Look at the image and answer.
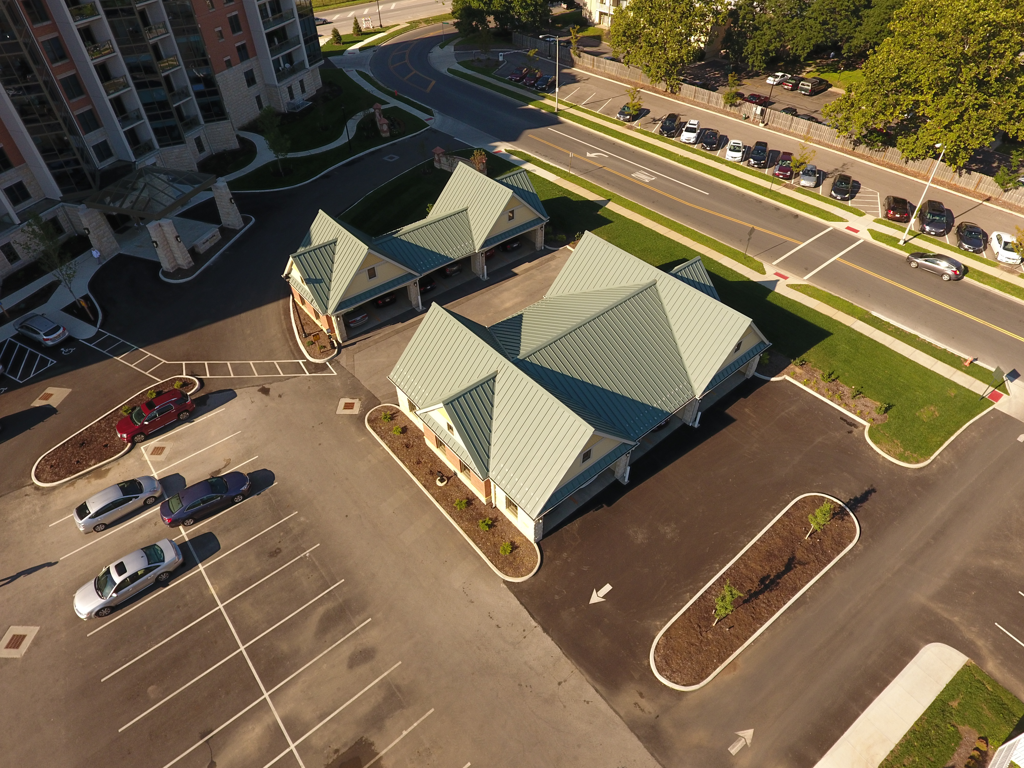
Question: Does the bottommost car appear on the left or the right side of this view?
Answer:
left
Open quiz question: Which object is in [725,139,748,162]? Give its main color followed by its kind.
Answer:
white car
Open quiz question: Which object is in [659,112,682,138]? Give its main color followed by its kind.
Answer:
black car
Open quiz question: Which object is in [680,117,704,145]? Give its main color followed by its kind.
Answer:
white car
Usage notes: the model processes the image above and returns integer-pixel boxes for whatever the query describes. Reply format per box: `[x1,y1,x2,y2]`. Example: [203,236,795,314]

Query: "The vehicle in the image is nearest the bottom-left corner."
[71,542,178,622]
